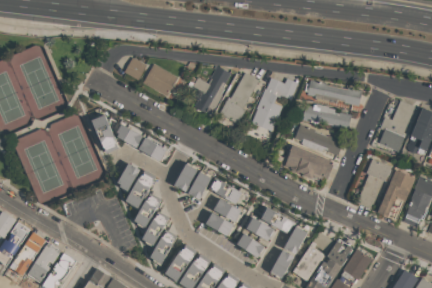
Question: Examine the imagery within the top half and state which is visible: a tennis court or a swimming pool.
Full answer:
Looking within the top half, you will find a tennis court.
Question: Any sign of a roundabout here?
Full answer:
No, no roundabout is visible in the view.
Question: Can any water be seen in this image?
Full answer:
No, the picture contains no water.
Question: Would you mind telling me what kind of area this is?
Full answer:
The area seen from above is a residential area.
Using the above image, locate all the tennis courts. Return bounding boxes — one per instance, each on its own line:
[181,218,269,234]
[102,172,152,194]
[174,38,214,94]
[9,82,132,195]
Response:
[47,114,100,186]
[10,46,63,118]
[16,130,69,202]
[0,60,30,130]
